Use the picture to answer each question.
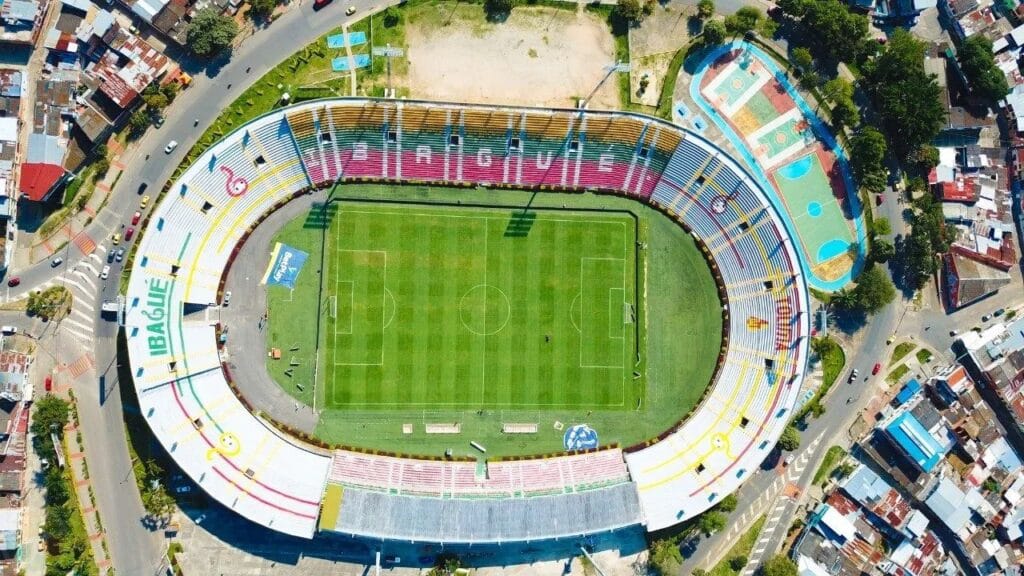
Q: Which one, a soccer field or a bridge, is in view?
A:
soccer field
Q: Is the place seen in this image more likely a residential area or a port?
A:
residential area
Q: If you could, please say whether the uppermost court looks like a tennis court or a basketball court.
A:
basketball court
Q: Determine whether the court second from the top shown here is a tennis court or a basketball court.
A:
basketball court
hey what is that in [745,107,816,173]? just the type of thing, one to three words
basketball court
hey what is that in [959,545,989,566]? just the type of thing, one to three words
house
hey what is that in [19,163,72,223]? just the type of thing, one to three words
house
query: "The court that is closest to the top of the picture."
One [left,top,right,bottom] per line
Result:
[704,56,770,116]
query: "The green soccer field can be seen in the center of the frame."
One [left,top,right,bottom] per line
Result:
[325,202,646,413]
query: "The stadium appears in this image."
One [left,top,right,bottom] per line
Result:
[128,96,811,547]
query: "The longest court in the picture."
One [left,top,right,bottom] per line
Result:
[771,151,851,264]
